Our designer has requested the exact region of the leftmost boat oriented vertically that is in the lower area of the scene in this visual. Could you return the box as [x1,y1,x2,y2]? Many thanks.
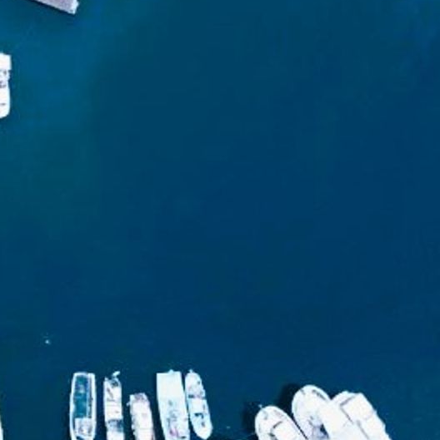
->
[70,372,97,440]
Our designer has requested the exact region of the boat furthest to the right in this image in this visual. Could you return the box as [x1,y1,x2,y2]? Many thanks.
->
[323,383,397,440]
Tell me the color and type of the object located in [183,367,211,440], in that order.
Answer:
white boat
